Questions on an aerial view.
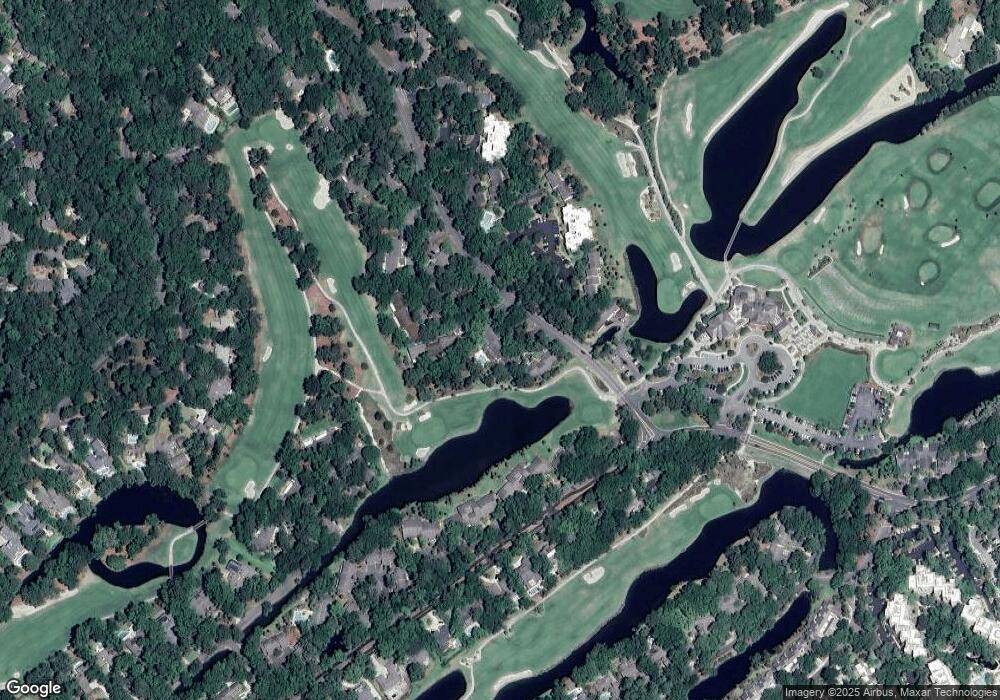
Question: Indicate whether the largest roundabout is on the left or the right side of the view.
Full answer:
You can find the largest roundabout on the right side of the picture.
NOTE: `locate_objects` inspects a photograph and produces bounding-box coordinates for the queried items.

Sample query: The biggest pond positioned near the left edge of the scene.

[20,482,206,589]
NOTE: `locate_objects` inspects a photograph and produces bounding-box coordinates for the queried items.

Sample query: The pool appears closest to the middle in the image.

[475,349,491,366]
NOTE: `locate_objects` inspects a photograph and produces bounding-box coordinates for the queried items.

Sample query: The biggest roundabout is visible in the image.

[741,340,797,392]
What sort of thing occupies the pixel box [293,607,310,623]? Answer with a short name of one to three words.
swimming pool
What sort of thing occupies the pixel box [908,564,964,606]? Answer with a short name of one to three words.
building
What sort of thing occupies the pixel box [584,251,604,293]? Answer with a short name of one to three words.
house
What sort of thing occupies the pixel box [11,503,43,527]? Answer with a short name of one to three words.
house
